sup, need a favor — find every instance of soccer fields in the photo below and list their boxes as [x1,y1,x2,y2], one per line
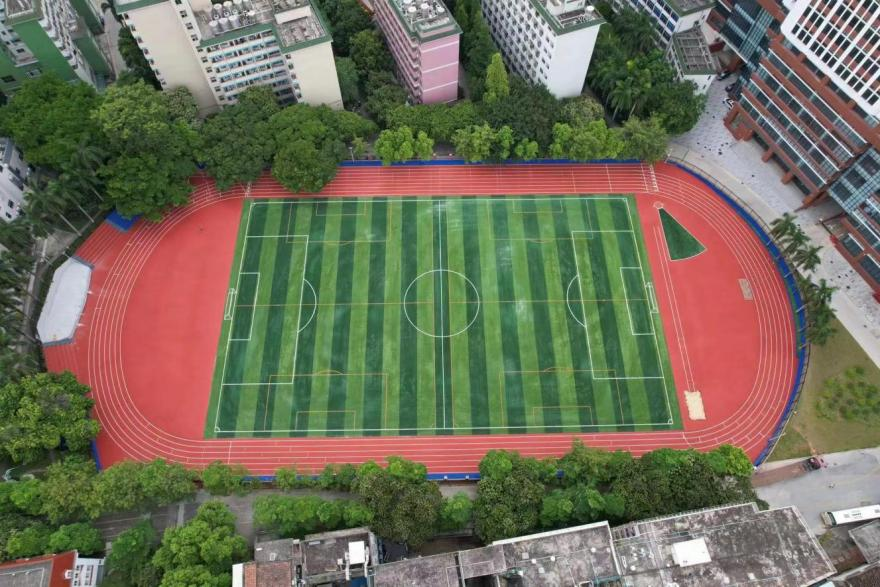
[203,193,684,437]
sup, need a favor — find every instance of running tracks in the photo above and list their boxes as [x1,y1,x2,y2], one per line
[71,162,797,479]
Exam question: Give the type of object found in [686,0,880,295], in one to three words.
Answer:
building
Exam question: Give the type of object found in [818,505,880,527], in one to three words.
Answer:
bus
